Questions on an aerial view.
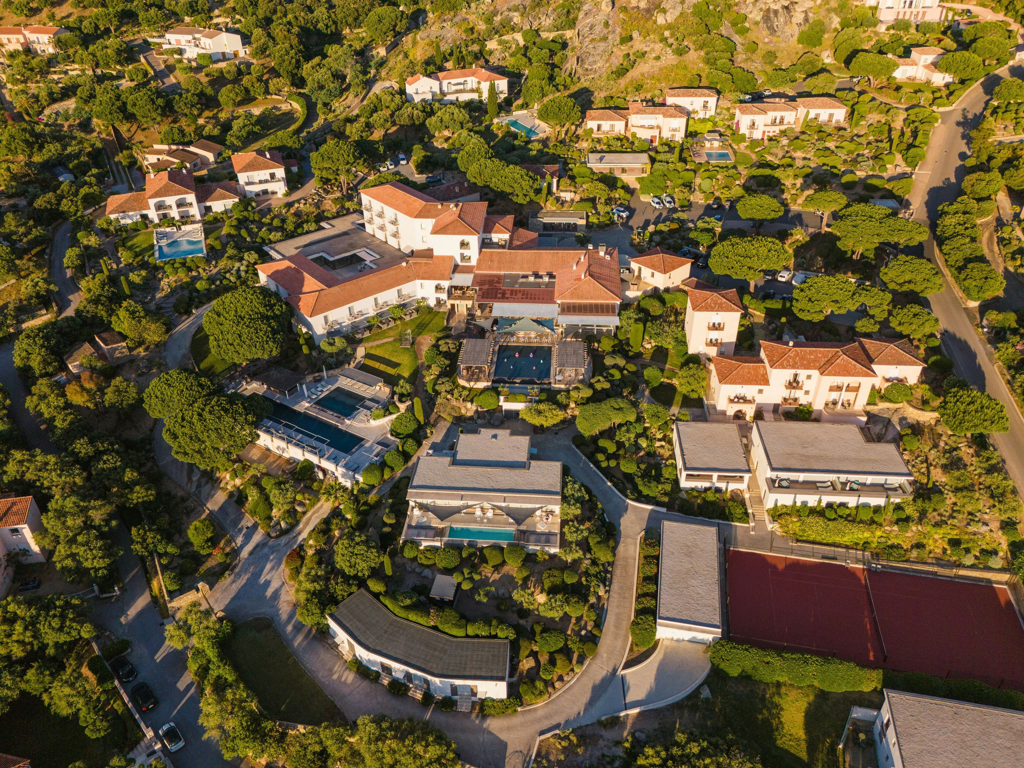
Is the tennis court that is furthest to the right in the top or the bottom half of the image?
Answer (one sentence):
It is in the bottom half that the tennis court that is furthest to the right appears.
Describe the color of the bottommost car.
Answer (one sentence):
The bottommost car is black.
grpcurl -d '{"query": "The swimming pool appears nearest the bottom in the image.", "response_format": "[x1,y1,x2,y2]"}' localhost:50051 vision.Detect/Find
[444,523,518,544]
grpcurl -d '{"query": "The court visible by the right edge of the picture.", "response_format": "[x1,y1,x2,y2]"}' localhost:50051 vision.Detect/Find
[726,550,1024,677]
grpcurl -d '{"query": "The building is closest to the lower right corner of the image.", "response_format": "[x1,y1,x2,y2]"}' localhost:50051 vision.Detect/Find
[876,688,1024,768]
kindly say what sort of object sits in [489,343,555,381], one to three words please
swimming pool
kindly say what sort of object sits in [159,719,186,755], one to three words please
car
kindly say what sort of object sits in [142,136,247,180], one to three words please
house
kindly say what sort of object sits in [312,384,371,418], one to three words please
swimming pool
